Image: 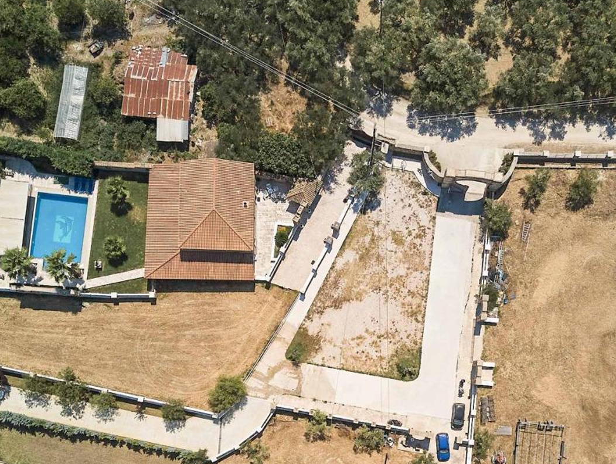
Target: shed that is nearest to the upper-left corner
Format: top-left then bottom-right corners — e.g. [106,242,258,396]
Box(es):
[54,65,92,141]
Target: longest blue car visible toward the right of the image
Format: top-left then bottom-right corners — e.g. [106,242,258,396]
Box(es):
[436,433,451,461]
